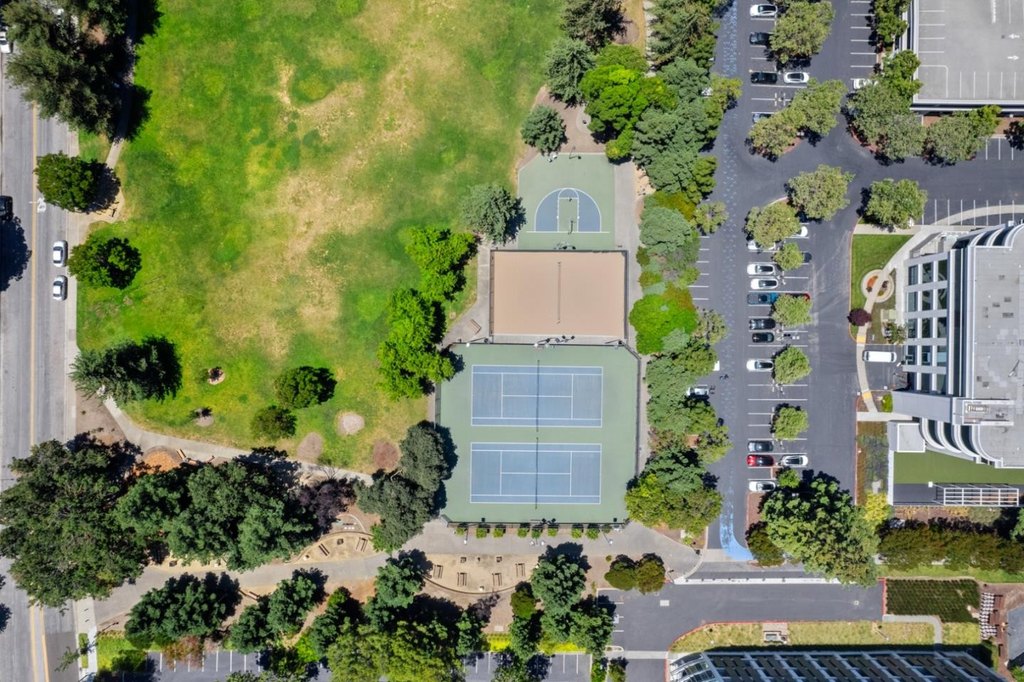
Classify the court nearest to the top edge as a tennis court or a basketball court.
basketball court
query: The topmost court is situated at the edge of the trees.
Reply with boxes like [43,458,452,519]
[517,152,615,248]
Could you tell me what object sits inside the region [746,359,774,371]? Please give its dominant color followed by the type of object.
white vehicle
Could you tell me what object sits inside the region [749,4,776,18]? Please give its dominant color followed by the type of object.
white car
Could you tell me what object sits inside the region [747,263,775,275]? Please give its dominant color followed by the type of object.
white vehicle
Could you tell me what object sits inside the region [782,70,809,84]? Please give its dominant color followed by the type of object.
white car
